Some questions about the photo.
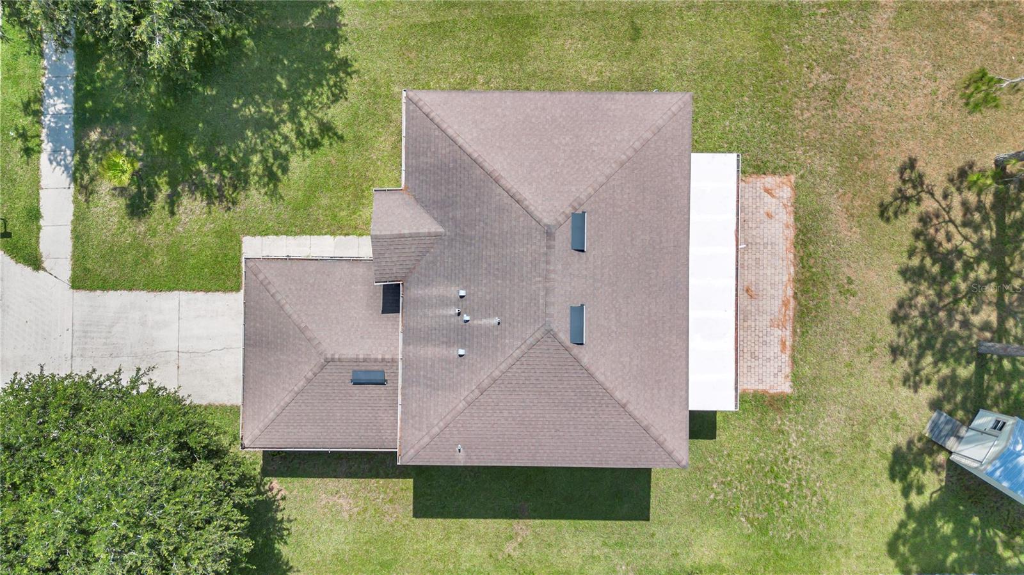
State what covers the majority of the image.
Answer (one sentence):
The scene is dominated by grass.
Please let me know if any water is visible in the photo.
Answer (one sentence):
No, the scene doesn't show any water.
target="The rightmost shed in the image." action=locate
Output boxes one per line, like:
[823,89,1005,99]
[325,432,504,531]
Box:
[950,408,1024,504]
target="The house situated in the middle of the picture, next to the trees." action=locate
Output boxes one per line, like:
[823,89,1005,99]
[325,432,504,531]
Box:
[241,88,746,468]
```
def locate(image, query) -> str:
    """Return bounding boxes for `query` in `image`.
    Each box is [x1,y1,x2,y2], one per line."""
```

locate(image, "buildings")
[241,88,746,468]
[950,408,1024,504]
